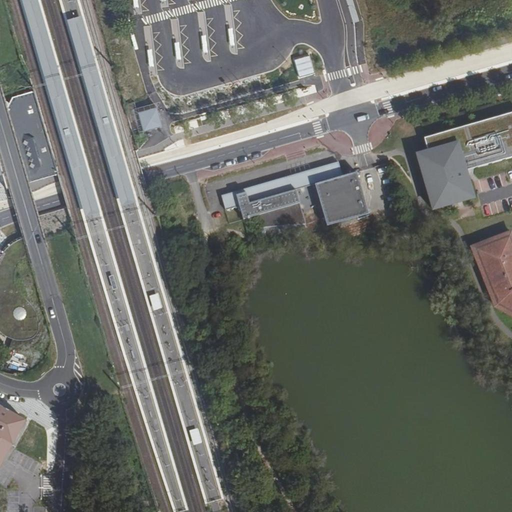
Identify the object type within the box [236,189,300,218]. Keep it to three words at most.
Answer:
building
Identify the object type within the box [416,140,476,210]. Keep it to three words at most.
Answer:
building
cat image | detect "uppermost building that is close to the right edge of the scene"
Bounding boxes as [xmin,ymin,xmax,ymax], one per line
[424,112,512,170]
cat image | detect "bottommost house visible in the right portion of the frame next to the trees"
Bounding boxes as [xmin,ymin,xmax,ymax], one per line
[470,229,512,316]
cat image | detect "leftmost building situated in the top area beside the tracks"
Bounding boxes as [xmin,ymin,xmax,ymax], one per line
[8,92,56,182]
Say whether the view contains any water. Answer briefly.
Yes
